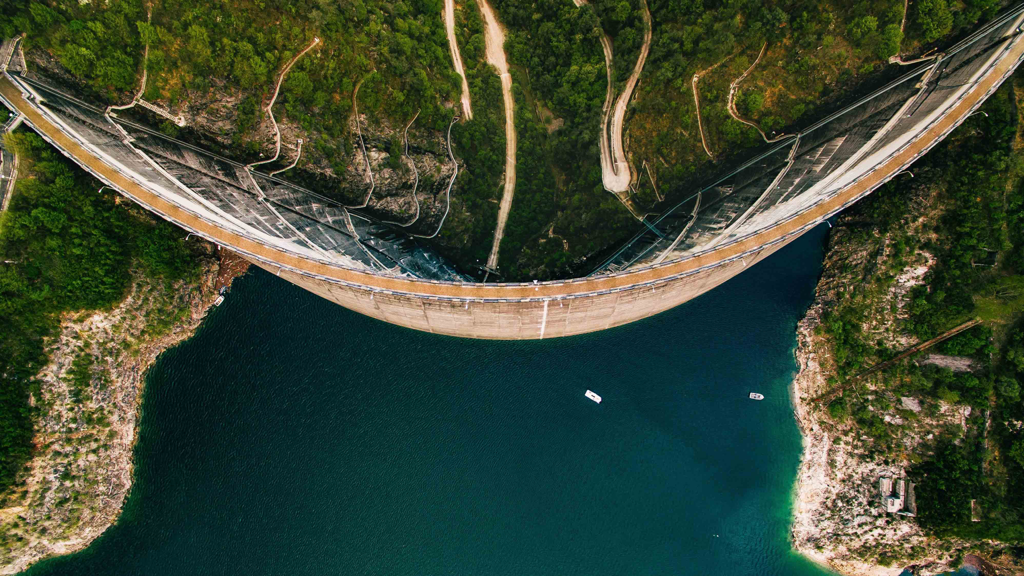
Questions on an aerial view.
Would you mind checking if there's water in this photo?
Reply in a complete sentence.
Yes, the picture does contain water.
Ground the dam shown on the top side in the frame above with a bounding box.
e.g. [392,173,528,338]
[0,7,1024,340]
